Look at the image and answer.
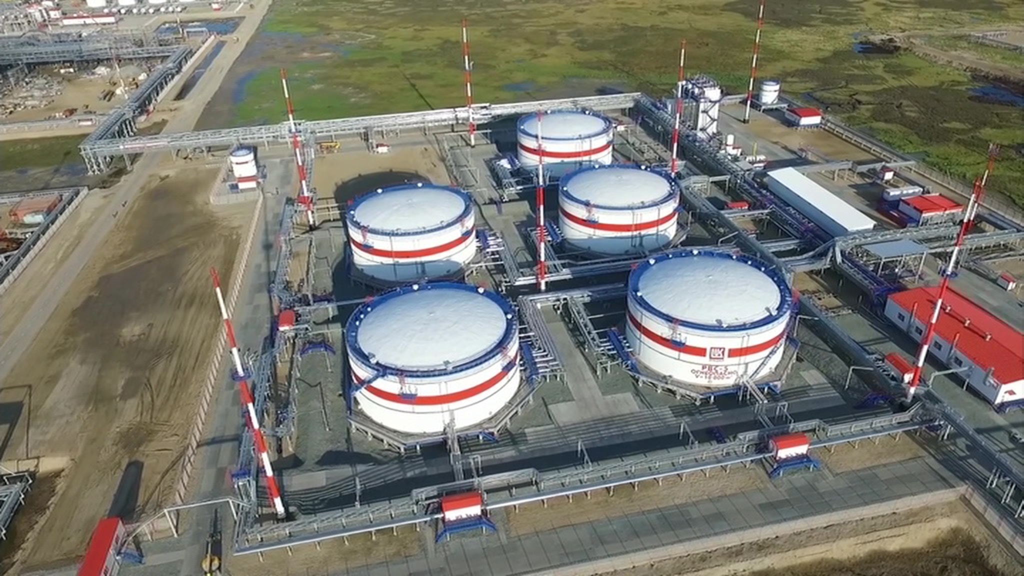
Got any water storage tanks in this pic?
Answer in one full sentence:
Yes, a water storage tank can be made out from above.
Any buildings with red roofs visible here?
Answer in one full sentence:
Yes, the picture does show a building with a red roof.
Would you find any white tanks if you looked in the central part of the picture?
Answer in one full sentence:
Yes, I can see a white tank in the central part of the picture.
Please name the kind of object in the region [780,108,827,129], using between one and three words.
building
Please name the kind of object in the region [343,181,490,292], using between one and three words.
storage tank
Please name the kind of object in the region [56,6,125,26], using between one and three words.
building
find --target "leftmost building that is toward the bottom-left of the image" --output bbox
[61,506,144,576]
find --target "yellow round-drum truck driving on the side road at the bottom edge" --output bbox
[196,534,222,576]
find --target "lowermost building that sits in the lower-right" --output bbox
[758,425,829,474]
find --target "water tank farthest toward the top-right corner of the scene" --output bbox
[751,78,790,108]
